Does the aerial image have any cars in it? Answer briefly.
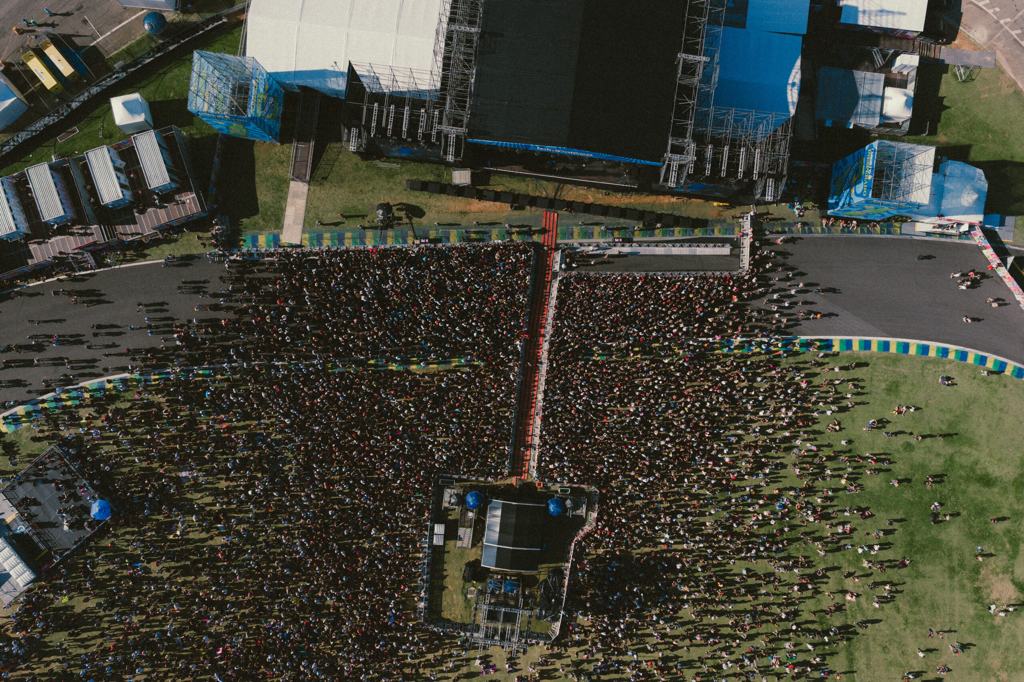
No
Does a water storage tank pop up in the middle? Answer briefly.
No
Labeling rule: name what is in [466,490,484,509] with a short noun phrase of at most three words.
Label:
umbrella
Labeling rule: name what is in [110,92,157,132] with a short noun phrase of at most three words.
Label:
tent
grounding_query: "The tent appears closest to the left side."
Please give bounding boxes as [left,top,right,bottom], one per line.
[0,71,36,142]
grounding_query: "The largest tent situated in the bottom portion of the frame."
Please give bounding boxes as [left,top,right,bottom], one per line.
[481,493,546,573]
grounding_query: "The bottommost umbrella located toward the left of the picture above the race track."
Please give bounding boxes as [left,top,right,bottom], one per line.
[377,201,393,217]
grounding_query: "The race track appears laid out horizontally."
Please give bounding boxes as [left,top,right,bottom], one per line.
[0,237,1024,414]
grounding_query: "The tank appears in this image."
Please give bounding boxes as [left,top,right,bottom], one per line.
[139,10,164,35]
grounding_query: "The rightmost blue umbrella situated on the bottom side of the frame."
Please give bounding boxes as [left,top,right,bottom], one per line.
[547,498,564,514]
